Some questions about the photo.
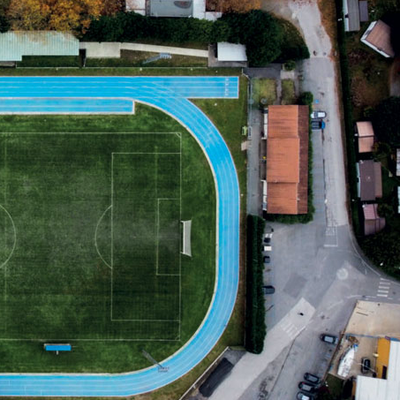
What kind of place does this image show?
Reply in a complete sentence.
This looks like a sports ground.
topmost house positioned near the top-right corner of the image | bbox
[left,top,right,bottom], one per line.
[343,0,368,31]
